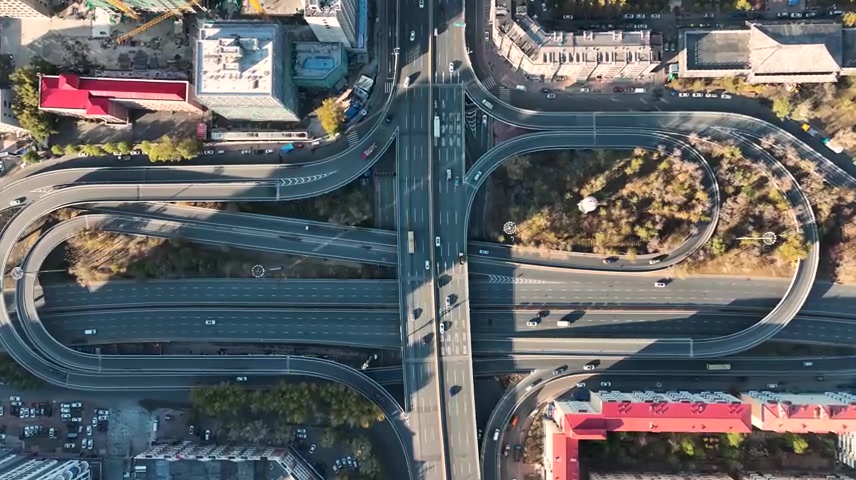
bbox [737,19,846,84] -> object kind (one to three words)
building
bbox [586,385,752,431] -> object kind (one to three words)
building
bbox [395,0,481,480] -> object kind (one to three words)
overpass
